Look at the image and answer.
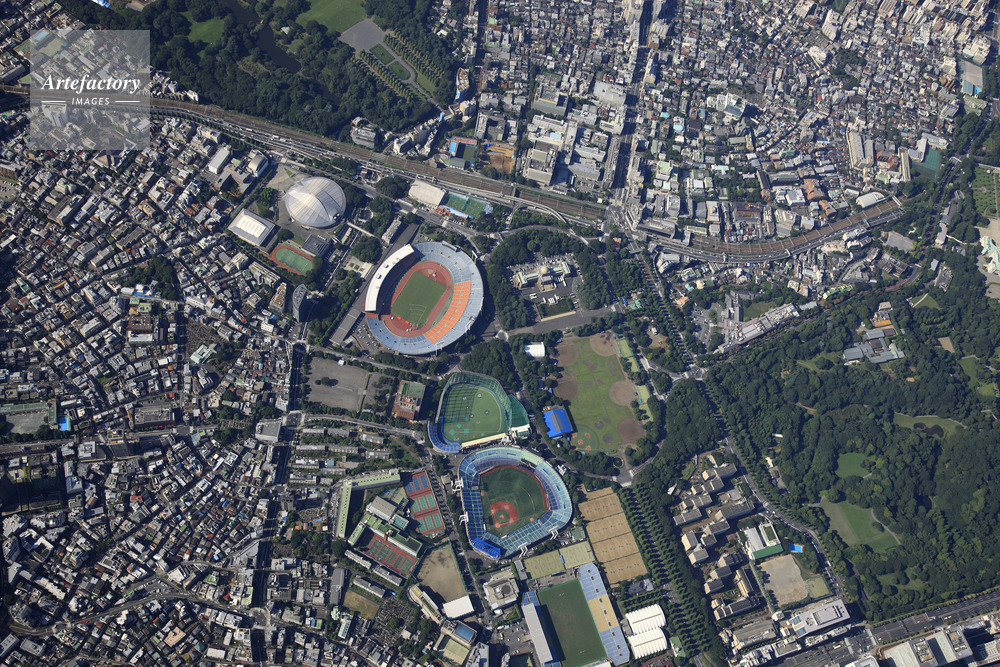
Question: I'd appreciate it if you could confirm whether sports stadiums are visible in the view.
Yes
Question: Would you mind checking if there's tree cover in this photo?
Yes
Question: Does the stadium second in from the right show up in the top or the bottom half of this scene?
bottom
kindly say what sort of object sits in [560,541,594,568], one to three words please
sports court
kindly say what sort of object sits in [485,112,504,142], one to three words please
building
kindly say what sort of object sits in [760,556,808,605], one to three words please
sports field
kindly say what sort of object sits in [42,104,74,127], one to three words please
building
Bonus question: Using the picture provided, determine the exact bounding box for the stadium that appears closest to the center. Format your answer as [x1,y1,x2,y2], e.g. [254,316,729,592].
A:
[365,238,483,357]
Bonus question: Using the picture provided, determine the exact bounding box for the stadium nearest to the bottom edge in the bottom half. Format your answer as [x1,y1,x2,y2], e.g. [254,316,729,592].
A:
[521,563,626,667]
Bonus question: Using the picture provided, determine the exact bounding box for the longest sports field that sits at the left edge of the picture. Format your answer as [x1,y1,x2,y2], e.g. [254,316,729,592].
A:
[4,413,47,433]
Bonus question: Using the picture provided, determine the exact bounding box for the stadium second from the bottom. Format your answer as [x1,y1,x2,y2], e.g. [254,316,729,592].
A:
[460,445,573,559]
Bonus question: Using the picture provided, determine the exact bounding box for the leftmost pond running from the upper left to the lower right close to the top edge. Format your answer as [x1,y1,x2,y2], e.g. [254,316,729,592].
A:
[221,0,301,71]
